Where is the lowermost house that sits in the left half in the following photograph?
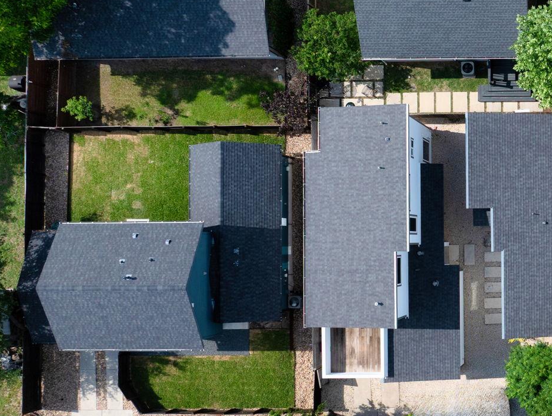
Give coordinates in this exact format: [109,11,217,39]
[18,142,297,357]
